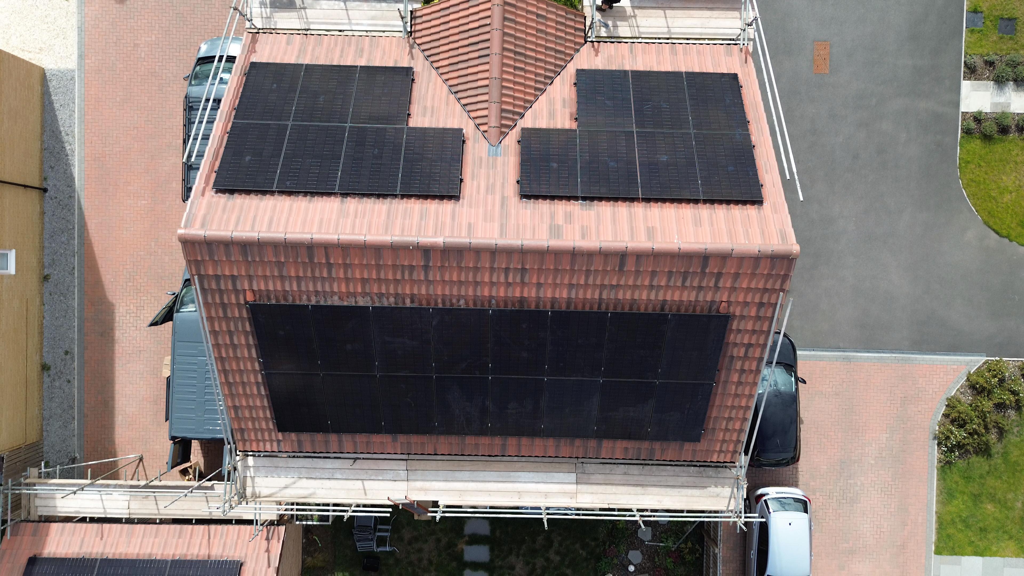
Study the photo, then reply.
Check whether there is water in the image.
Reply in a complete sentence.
No, no water is visible.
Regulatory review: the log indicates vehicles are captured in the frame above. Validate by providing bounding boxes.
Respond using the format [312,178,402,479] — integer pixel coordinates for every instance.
[176,38,239,217]
[741,483,812,576]
[740,328,809,470]
[147,263,239,484]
